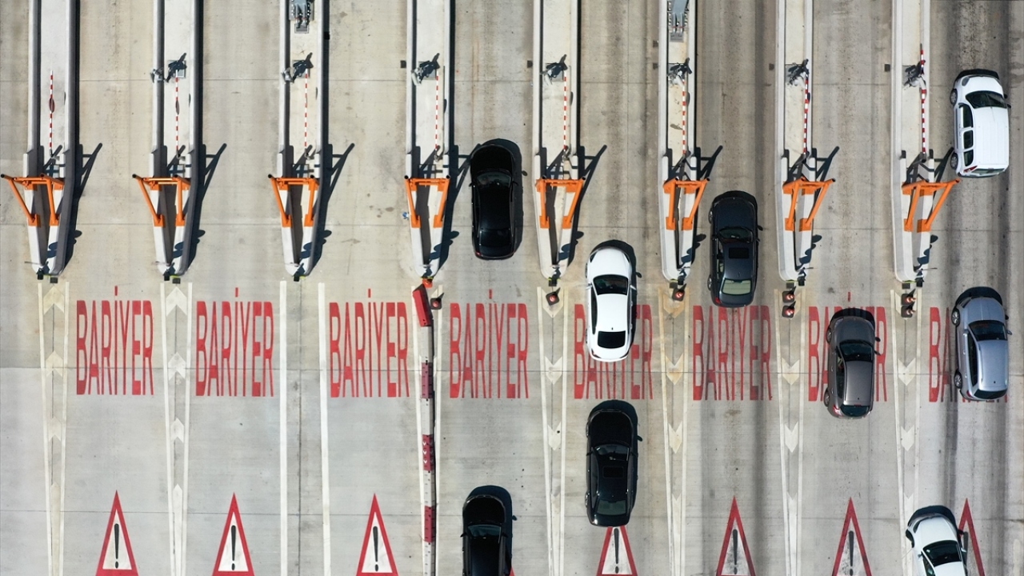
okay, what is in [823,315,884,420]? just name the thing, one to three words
car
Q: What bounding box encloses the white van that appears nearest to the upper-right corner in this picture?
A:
[948,77,1010,178]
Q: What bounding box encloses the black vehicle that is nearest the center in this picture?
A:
[465,144,519,260]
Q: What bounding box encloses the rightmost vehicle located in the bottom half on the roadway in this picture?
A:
[949,295,1011,401]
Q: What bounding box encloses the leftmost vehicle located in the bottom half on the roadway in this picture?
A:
[458,494,513,576]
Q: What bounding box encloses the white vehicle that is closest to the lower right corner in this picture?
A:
[906,509,972,576]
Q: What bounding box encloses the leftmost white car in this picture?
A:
[583,245,638,363]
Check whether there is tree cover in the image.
No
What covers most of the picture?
paved ground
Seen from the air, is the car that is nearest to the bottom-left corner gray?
No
